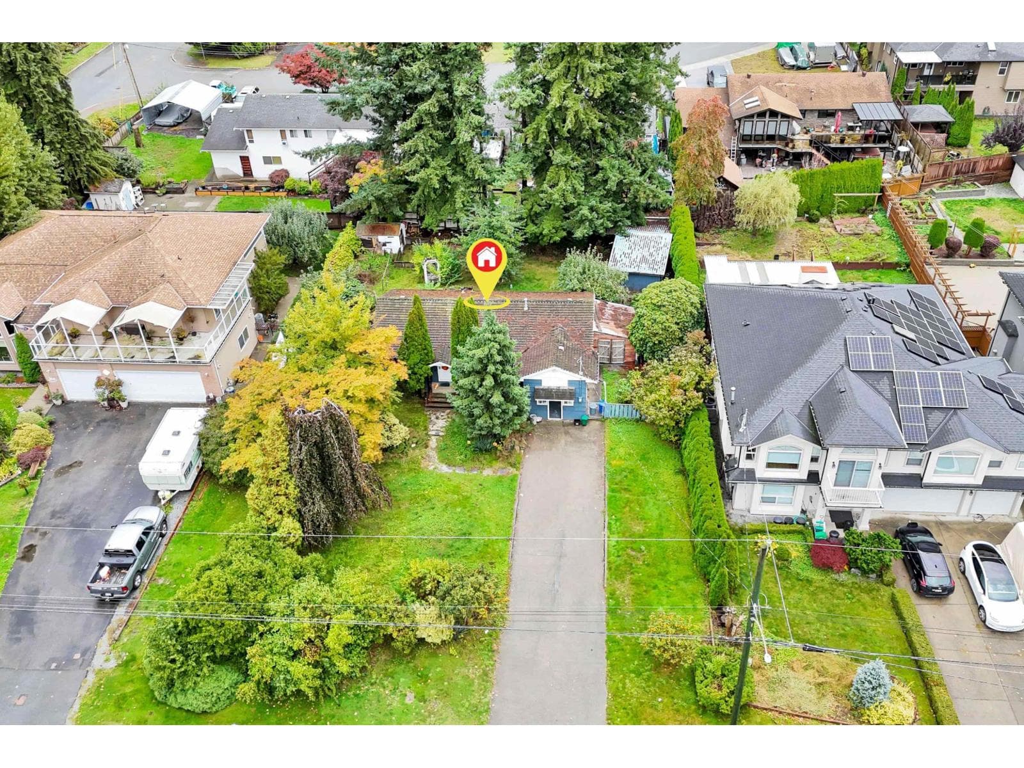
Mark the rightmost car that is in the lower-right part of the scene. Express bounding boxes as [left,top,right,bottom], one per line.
[961,542,1024,639]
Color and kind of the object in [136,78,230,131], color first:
white tent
